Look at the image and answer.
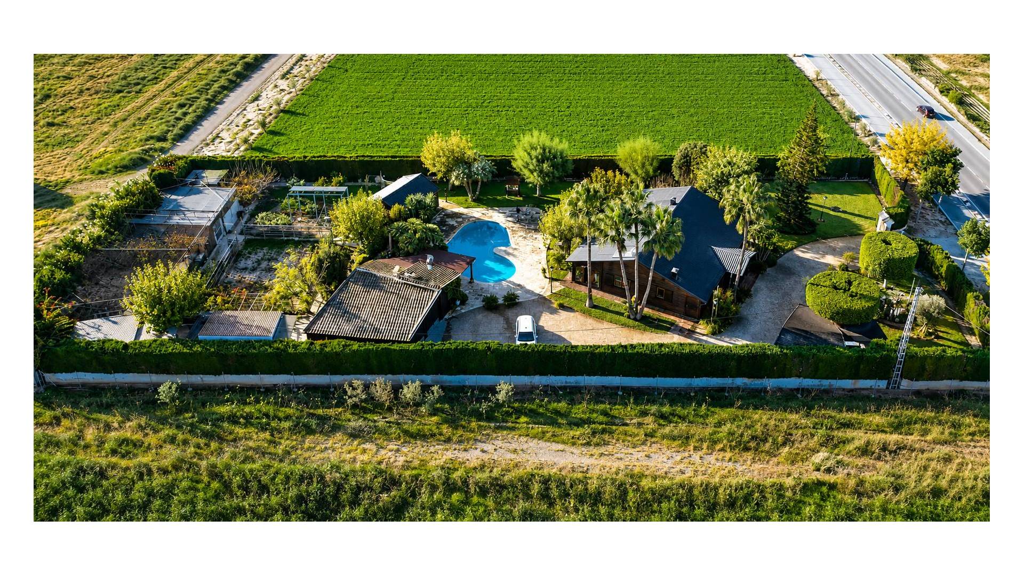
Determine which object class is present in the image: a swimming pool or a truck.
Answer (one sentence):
The one in the frame is a swimming pool.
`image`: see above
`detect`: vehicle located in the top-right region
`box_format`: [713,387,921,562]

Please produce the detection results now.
[913,106,938,122]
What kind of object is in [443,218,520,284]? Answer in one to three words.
swimming pool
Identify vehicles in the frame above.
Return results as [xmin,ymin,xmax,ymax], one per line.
[514,316,539,347]
[913,106,938,122]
